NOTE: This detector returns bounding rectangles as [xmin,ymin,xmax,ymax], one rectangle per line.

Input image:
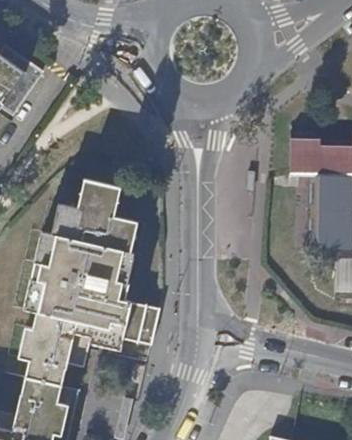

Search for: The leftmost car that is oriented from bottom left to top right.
[0,124,16,144]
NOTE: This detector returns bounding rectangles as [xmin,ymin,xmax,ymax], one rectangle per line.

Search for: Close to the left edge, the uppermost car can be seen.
[16,102,32,120]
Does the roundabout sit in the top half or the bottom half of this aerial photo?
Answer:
top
